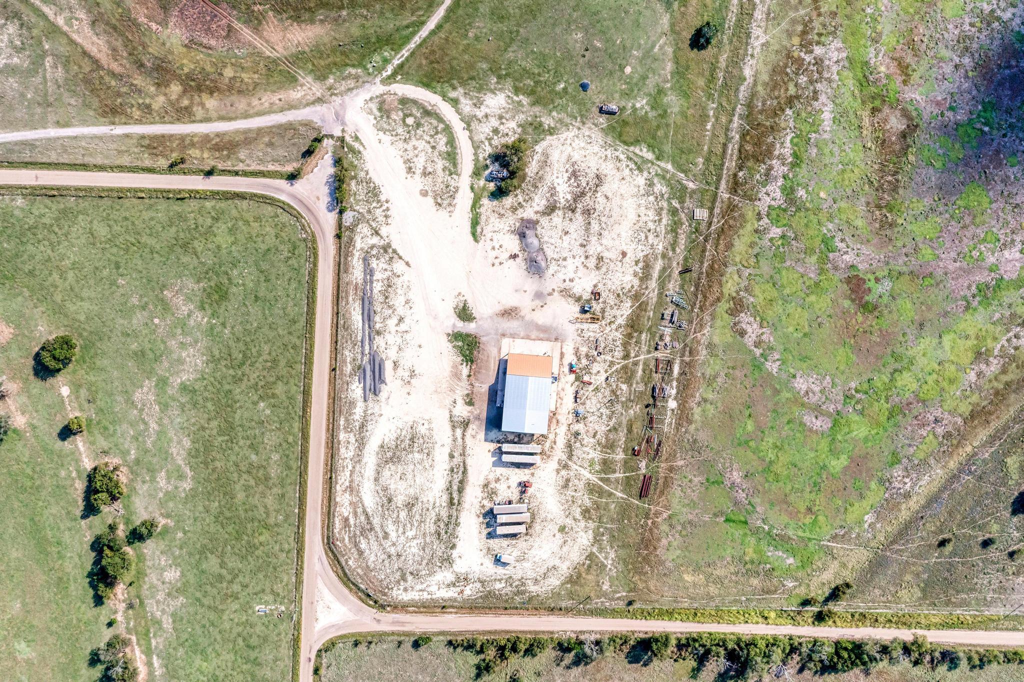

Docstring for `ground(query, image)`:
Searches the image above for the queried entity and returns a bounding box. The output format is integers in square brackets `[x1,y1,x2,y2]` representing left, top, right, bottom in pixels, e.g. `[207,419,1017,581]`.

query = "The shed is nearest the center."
[501,353,552,434]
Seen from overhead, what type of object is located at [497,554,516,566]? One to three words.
vehicle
